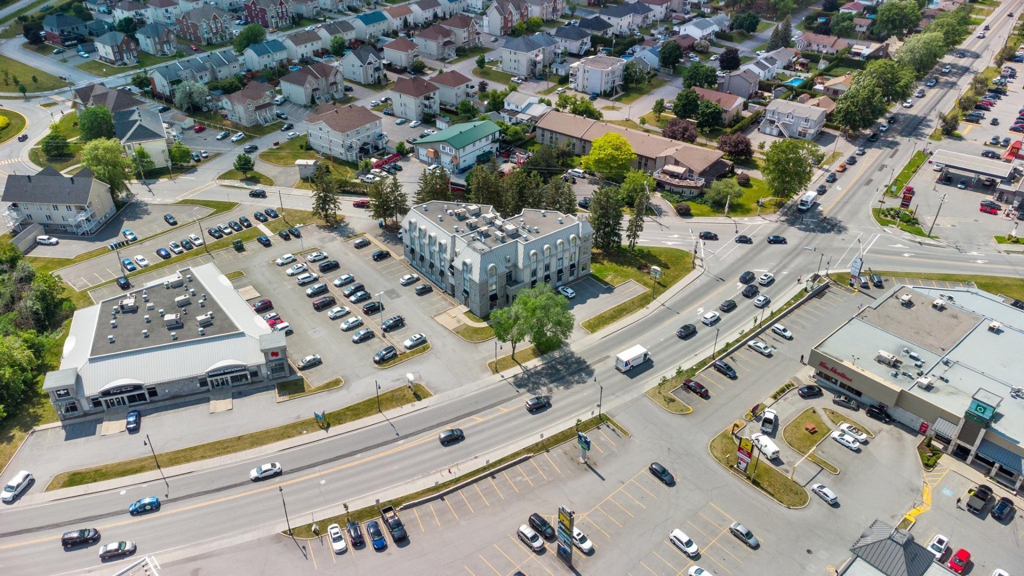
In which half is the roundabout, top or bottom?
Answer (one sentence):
It is in the top half that the roundabout appears.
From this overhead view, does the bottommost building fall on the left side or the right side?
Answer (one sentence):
The bottommost building sits on the right side.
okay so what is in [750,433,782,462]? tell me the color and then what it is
white van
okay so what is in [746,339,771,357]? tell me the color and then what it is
gray car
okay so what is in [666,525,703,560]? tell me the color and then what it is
white car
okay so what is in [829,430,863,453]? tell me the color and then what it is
white car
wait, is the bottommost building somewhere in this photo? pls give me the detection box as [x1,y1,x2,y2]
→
[829,518,938,576]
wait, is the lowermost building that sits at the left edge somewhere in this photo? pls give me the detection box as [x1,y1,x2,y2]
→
[42,263,293,420]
